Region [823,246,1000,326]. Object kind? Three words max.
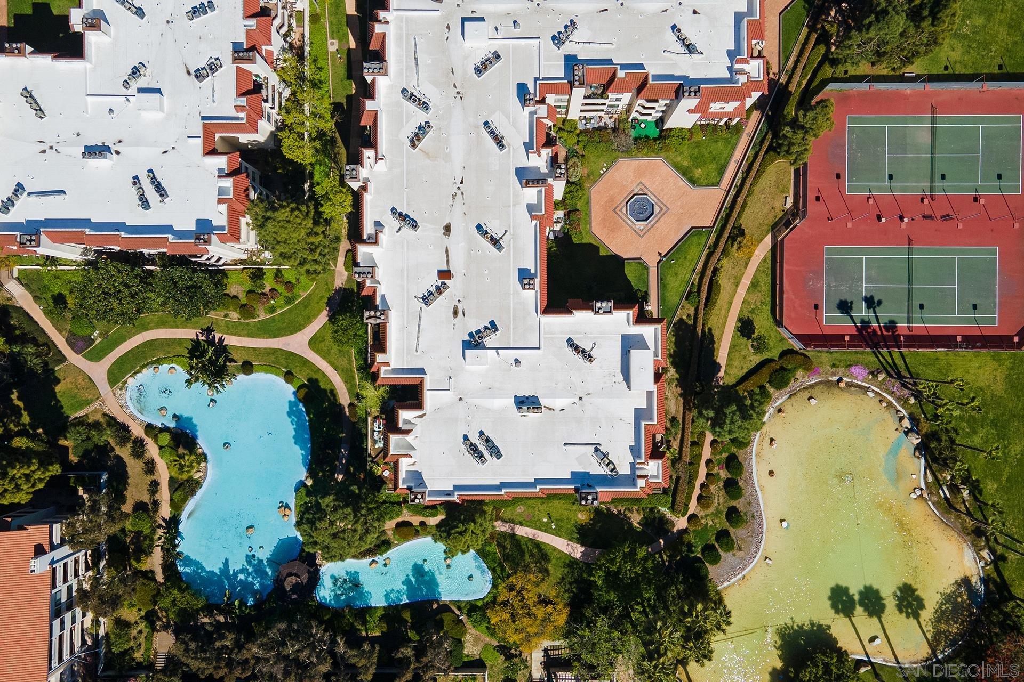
tennis court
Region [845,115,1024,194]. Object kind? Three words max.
tennis court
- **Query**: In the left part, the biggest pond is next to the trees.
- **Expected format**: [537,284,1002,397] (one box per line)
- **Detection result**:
[126,364,311,606]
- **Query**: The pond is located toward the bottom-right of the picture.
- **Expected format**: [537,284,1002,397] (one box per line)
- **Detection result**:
[673,379,985,682]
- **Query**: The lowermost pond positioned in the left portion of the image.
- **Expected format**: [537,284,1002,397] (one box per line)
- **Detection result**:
[315,537,492,609]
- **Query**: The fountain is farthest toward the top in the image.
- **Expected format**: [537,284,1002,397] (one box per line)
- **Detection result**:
[628,194,655,222]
